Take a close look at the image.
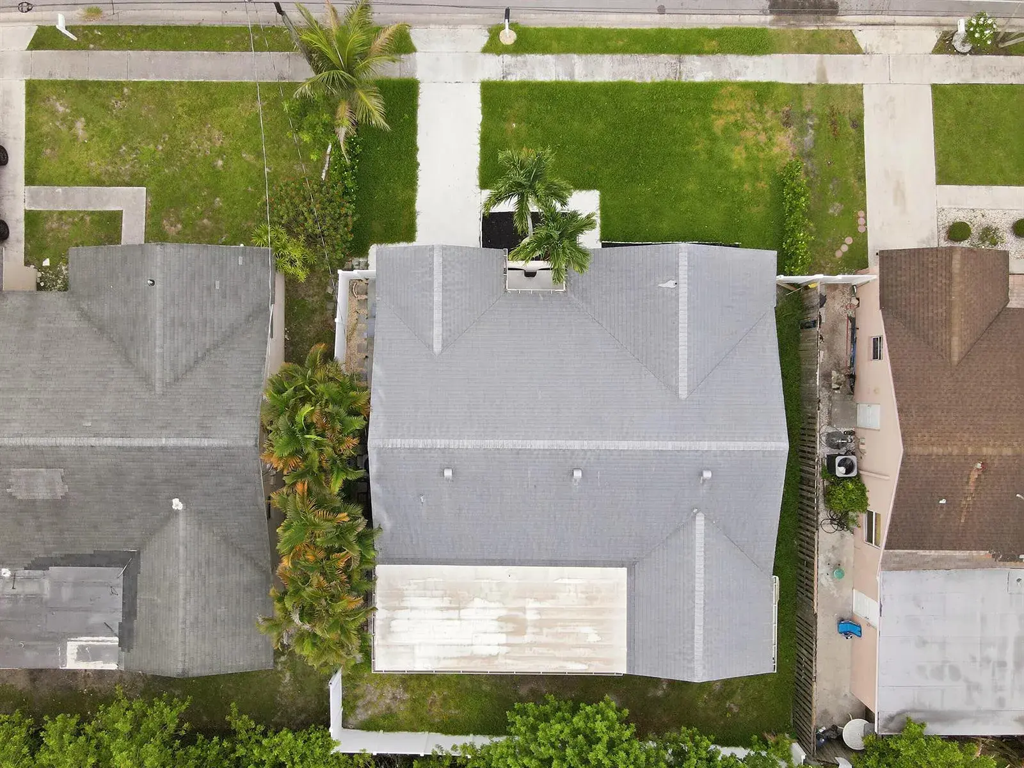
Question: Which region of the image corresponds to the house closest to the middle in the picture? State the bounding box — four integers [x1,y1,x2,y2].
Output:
[369,241,788,681]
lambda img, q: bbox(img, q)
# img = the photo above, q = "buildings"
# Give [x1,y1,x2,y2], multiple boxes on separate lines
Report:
[851,248,1024,735]
[369,241,788,681]
[0,242,287,680]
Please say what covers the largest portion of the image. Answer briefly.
buildings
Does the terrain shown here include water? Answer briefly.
No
